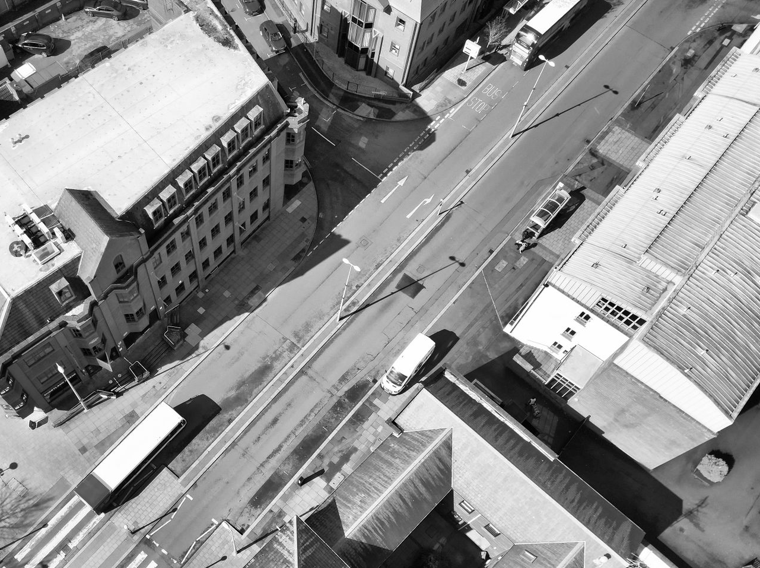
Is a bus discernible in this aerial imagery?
Yes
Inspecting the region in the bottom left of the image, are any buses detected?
Yes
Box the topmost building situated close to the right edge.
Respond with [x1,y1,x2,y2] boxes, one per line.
[510,8,760,462]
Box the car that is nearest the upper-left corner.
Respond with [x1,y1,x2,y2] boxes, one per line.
[12,32,56,55]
